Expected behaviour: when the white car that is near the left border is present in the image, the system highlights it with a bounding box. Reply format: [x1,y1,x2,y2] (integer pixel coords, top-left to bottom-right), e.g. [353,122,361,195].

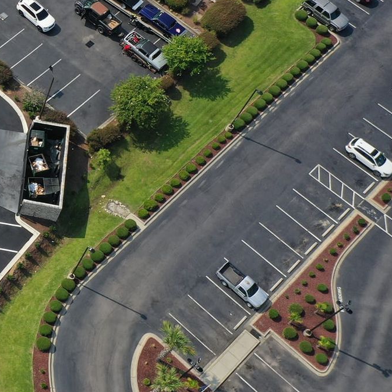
[16,0,56,32]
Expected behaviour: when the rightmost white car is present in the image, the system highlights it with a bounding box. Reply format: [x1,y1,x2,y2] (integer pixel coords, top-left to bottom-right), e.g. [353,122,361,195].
[343,136,392,180]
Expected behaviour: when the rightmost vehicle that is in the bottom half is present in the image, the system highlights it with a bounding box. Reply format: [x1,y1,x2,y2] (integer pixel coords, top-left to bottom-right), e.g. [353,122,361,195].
[212,259,272,313]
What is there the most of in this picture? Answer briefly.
paved ground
